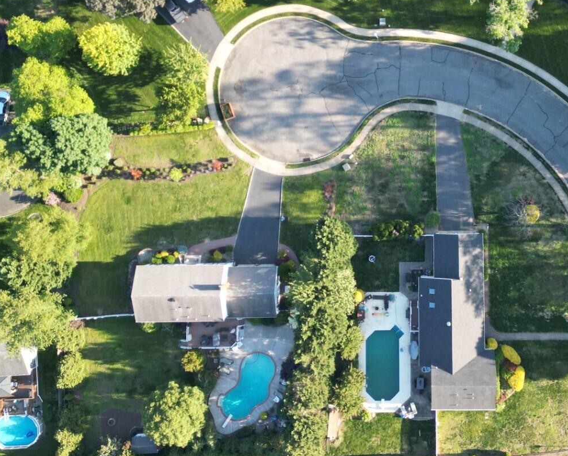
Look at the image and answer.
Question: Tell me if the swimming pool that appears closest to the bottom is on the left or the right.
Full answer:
It is on the left.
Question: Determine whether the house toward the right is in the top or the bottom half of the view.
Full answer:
The bottom half of the photo is where the house toward the right is.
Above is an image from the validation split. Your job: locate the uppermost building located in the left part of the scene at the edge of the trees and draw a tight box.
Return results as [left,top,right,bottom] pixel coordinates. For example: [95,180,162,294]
[131,256,280,350]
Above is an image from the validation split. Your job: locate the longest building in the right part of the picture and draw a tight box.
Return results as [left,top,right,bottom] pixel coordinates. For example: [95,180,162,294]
[411,233,496,411]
